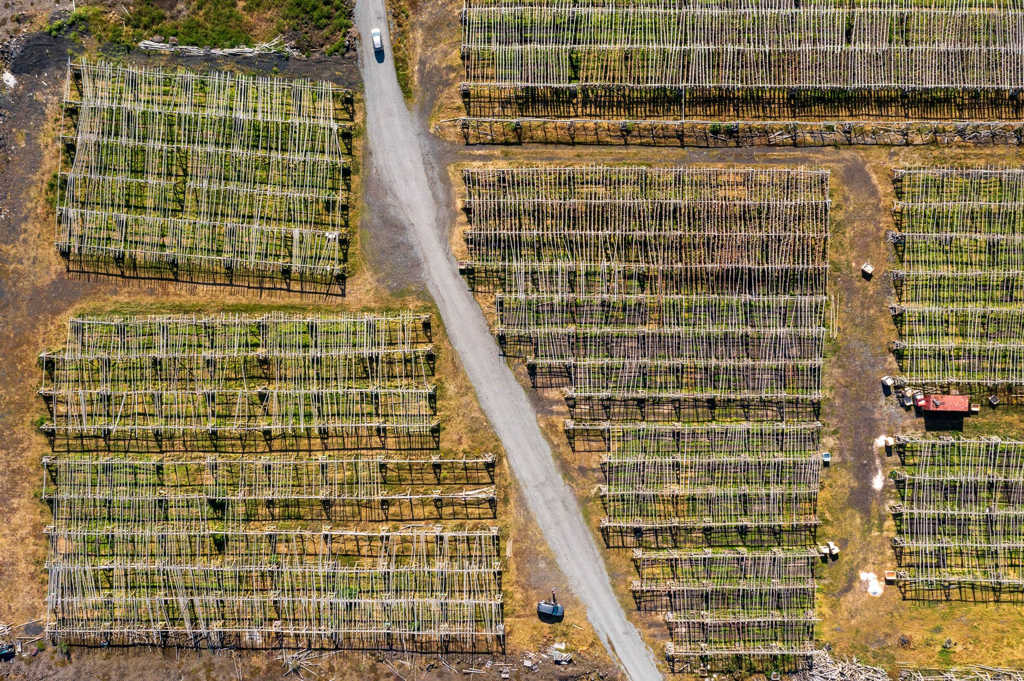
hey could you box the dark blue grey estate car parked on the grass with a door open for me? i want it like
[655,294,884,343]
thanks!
[536,598,564,617]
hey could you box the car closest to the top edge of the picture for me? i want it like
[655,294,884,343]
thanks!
[370,29,384,53]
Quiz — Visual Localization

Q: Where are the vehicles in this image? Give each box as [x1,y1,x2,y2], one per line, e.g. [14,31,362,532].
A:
[536,598,564,617]
[370,29,384,53]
